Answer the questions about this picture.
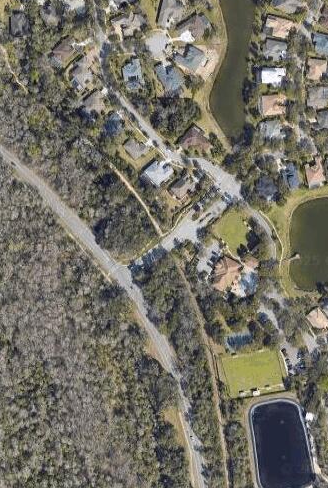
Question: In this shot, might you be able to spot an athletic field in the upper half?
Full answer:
No, there is no athletic field in the upper half.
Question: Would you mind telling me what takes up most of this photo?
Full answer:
For the most part, this view shows trees.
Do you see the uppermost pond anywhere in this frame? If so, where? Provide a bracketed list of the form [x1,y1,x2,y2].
[208,0,254,147]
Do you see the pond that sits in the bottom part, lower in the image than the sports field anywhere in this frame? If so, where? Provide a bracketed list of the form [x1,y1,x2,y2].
[253,399,314,488]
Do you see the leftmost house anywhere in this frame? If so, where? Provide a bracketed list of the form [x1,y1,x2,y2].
[10,13,29,36]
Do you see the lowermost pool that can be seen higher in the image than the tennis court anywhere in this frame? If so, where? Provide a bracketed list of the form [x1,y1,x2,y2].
[234,269,258,298]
